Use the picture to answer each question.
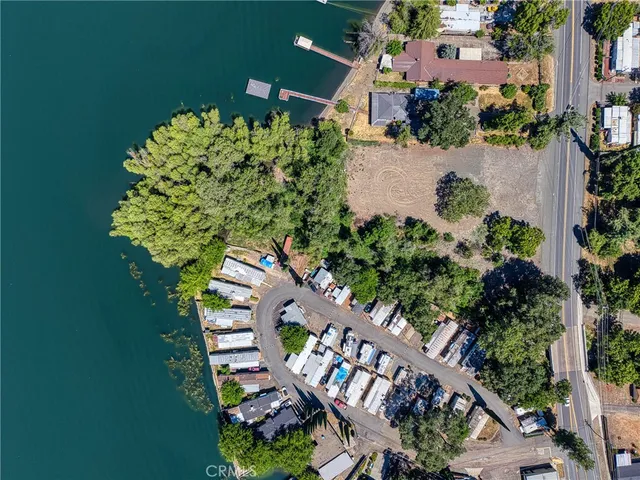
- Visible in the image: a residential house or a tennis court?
residential house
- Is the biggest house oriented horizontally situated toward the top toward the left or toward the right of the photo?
right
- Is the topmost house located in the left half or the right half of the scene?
right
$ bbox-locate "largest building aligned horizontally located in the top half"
[392,39,509,86]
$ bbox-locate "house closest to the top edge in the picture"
[438,4,481,36]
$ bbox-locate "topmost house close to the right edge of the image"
[611,22,640,74]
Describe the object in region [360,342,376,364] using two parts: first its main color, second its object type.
white camper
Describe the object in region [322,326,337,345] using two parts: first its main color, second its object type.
white camper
